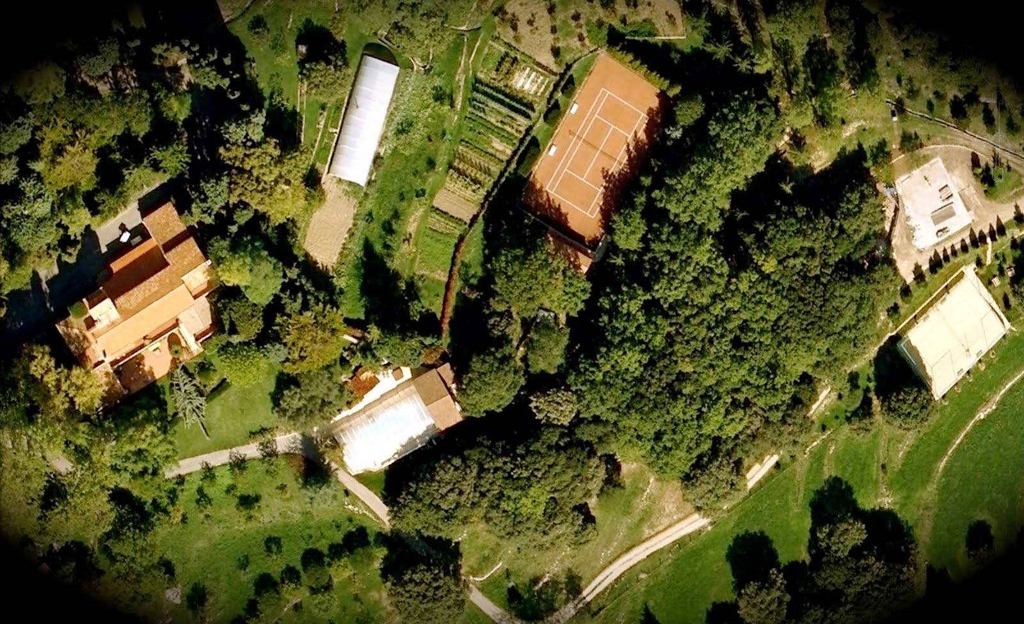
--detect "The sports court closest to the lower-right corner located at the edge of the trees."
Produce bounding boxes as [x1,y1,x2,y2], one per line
[900,263,1012,401]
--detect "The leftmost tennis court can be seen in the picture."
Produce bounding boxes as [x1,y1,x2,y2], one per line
[517,48,676,251]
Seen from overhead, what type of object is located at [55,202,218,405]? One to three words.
house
